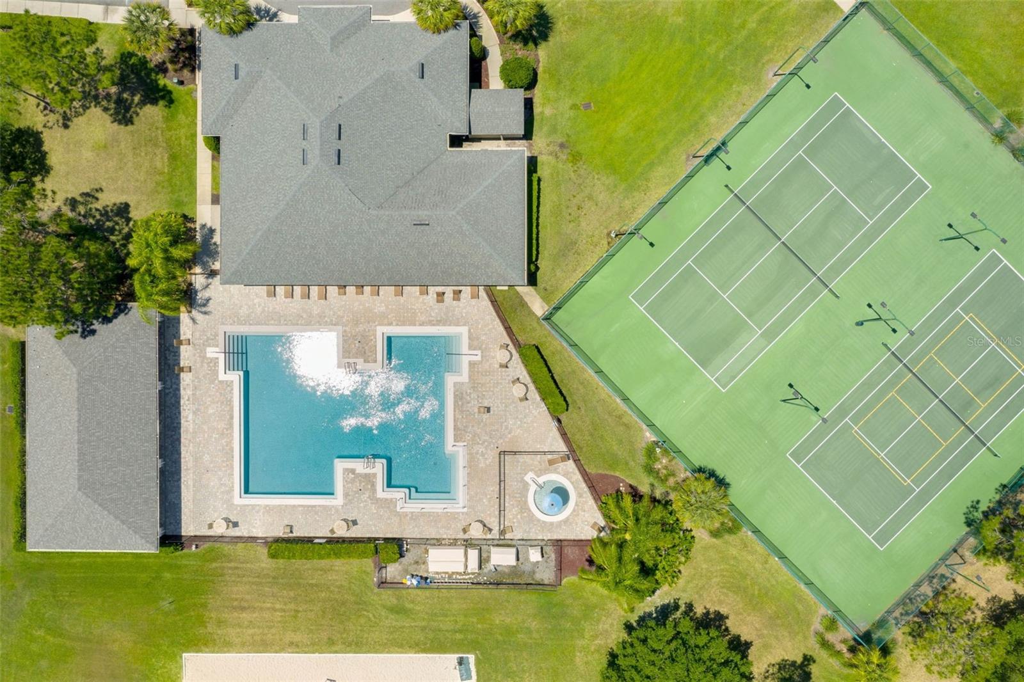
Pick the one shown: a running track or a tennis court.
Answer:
tennis court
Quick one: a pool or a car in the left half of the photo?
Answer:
pool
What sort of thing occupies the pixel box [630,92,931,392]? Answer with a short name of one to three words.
tennis court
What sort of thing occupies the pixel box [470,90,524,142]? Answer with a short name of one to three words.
shed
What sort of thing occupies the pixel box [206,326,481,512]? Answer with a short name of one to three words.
swimming pool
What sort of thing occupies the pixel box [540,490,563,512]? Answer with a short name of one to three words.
fountain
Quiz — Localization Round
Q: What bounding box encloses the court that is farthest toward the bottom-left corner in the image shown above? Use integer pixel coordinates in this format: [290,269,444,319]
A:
[182,653,475,682]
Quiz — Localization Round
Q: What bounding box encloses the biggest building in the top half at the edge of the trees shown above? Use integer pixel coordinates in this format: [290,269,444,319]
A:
[200,6,528,286]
